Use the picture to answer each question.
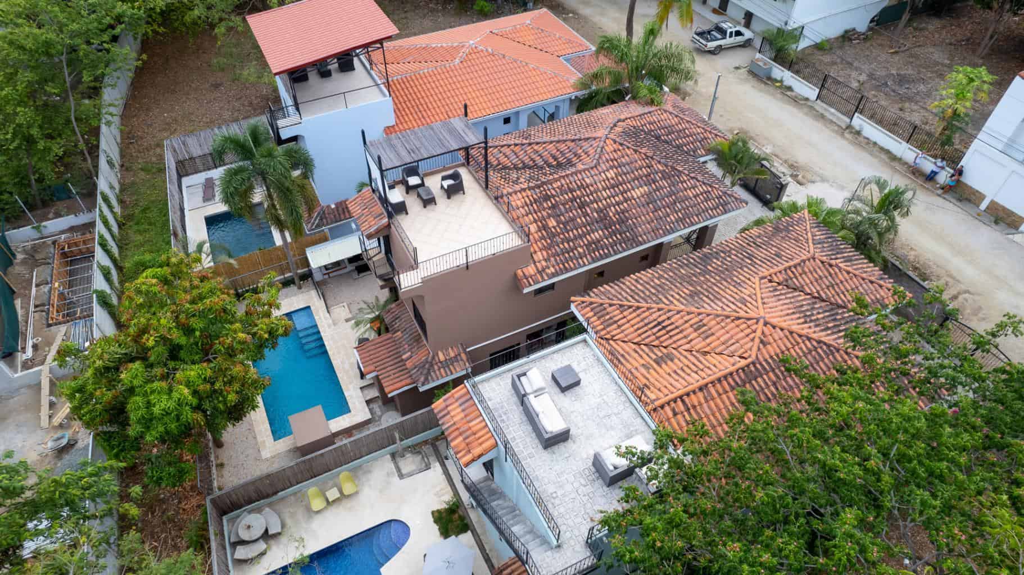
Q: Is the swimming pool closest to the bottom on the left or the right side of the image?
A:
left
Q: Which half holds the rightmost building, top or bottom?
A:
top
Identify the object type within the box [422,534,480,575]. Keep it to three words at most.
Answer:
umbrella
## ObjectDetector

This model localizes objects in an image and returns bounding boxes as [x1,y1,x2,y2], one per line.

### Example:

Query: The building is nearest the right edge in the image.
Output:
[949,77,1024,234]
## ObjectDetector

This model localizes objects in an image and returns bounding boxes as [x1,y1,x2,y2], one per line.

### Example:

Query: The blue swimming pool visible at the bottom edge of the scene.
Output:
[267,516,410,575]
